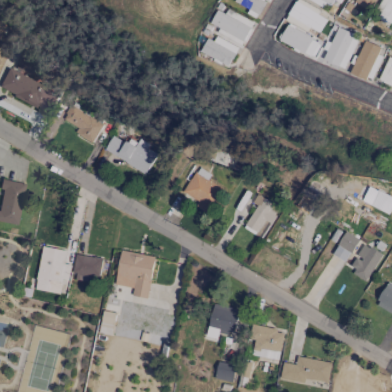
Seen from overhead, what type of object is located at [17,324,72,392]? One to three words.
tennis court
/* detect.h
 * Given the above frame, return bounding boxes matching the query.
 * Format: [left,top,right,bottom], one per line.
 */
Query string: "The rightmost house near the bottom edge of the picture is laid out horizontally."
[281,360,333,388]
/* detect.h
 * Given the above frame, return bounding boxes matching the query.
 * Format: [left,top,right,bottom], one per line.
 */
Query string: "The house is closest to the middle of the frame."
[186,168,215,202]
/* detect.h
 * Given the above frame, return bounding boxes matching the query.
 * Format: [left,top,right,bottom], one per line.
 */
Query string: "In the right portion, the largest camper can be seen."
[237,192,253,212]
